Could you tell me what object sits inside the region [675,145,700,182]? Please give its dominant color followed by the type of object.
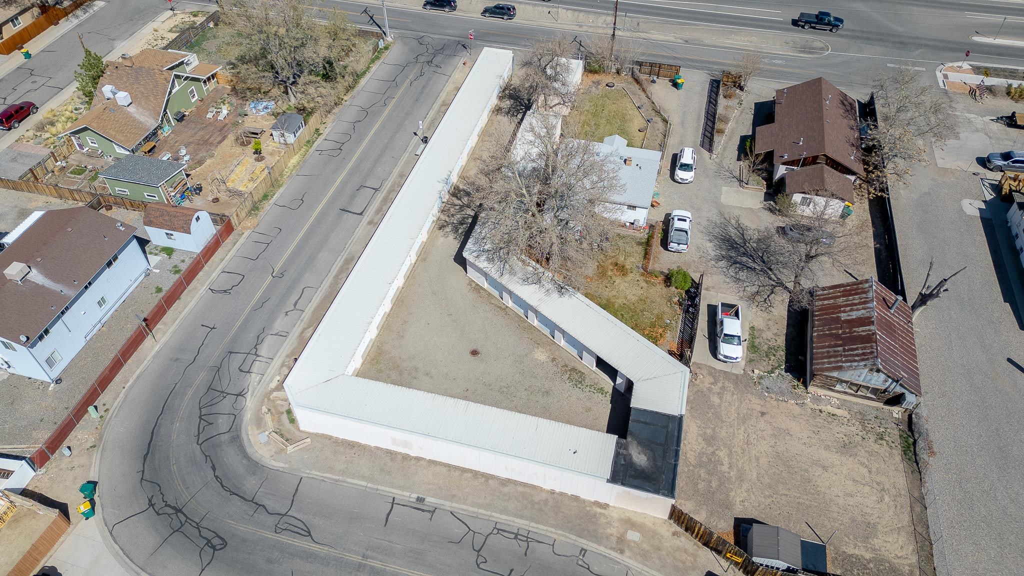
white car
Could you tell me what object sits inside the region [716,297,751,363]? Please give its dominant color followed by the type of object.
white truck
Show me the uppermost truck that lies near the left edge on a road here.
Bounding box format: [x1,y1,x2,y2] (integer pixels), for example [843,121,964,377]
[0,99,40,129]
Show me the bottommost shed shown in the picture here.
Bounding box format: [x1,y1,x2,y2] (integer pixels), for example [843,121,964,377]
[751,509,812,572]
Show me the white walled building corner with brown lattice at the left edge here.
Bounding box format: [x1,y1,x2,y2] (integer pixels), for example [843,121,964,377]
[0,455,35,499]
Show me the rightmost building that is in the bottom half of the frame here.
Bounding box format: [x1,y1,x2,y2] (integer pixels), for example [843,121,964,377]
[806,277,924,416]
